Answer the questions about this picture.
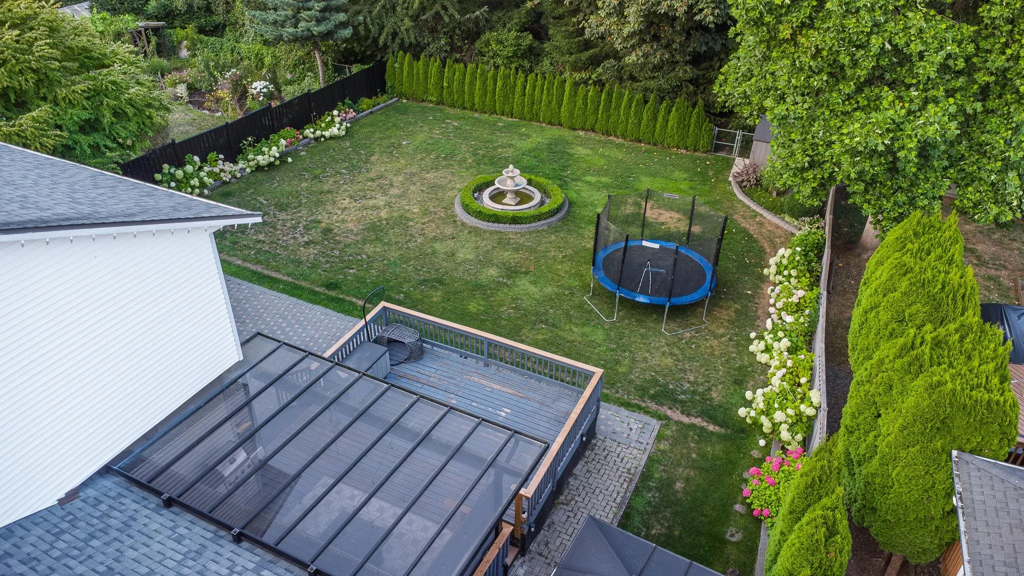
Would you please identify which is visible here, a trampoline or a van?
trampoline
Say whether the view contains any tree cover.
Yes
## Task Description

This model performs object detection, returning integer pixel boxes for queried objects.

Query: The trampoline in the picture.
[584,186,732,334]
